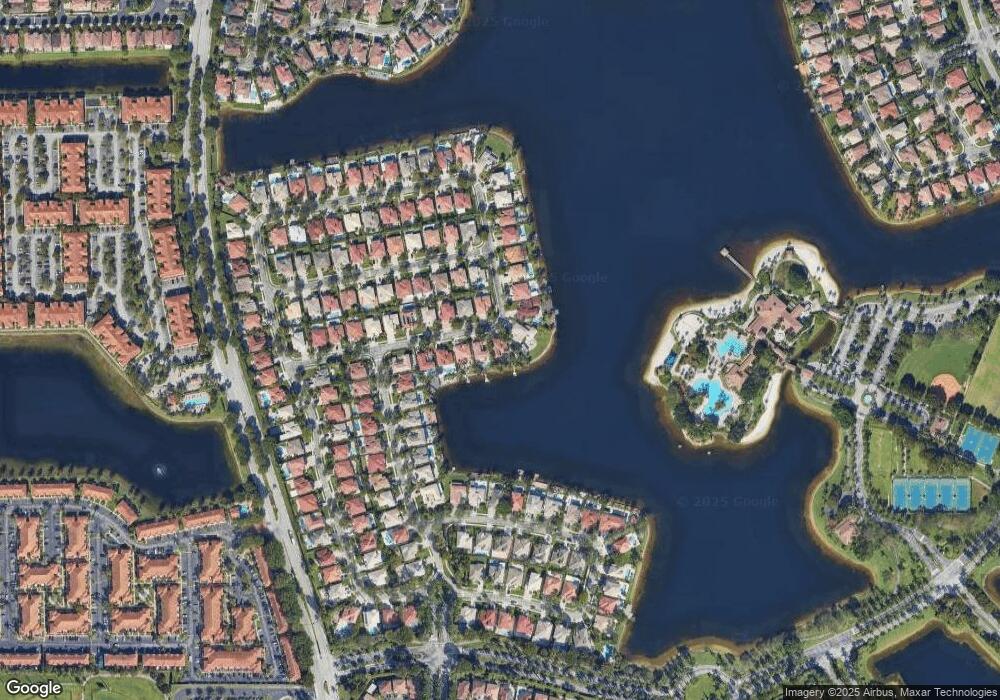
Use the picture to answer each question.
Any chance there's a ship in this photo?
No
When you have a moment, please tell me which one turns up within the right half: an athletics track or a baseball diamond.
baseball diamond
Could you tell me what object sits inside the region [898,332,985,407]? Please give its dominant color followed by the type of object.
green baseball field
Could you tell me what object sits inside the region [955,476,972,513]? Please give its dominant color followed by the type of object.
blue tennis court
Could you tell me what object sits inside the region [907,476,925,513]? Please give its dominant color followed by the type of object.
blue tennis court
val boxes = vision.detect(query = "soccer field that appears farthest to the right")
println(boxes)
[965,309,1000,420]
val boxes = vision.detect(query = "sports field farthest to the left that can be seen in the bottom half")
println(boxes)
[869,426,893,500]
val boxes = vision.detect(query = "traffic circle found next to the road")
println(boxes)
[852,376,895,420]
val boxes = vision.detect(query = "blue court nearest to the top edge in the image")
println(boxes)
[957,421,1000,468]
